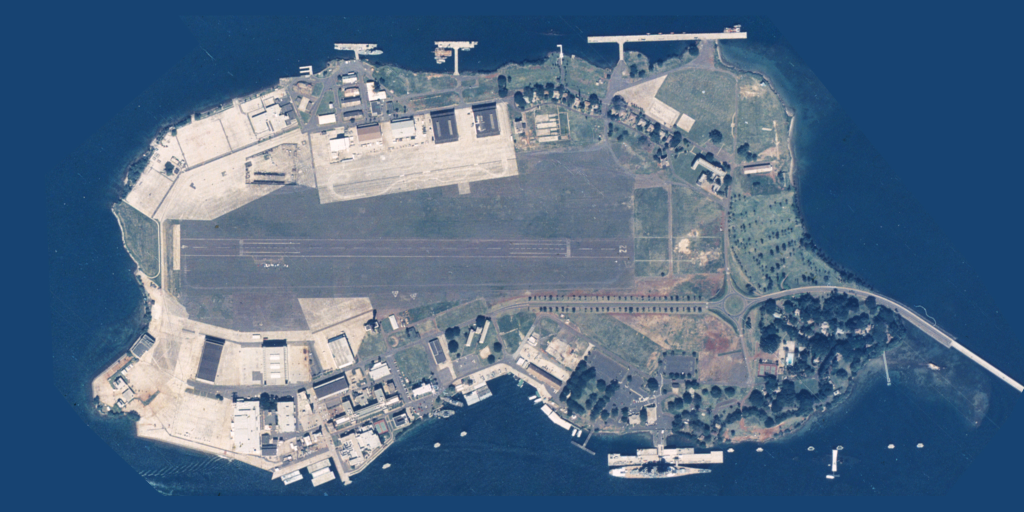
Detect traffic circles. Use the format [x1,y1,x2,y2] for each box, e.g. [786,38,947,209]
[706,283,760,327]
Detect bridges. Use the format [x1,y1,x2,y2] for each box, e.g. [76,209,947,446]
[951,340,1024,393]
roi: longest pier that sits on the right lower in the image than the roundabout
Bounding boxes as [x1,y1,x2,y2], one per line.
[608,444,723,467]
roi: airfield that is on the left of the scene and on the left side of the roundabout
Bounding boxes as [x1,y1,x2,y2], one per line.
[92,88,634,464]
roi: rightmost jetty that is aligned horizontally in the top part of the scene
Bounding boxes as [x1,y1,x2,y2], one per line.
[588,32,747,60]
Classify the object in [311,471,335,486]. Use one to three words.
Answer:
ship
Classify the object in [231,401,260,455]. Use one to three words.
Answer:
building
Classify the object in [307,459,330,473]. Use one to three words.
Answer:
ship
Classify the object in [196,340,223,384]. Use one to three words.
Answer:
hangar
